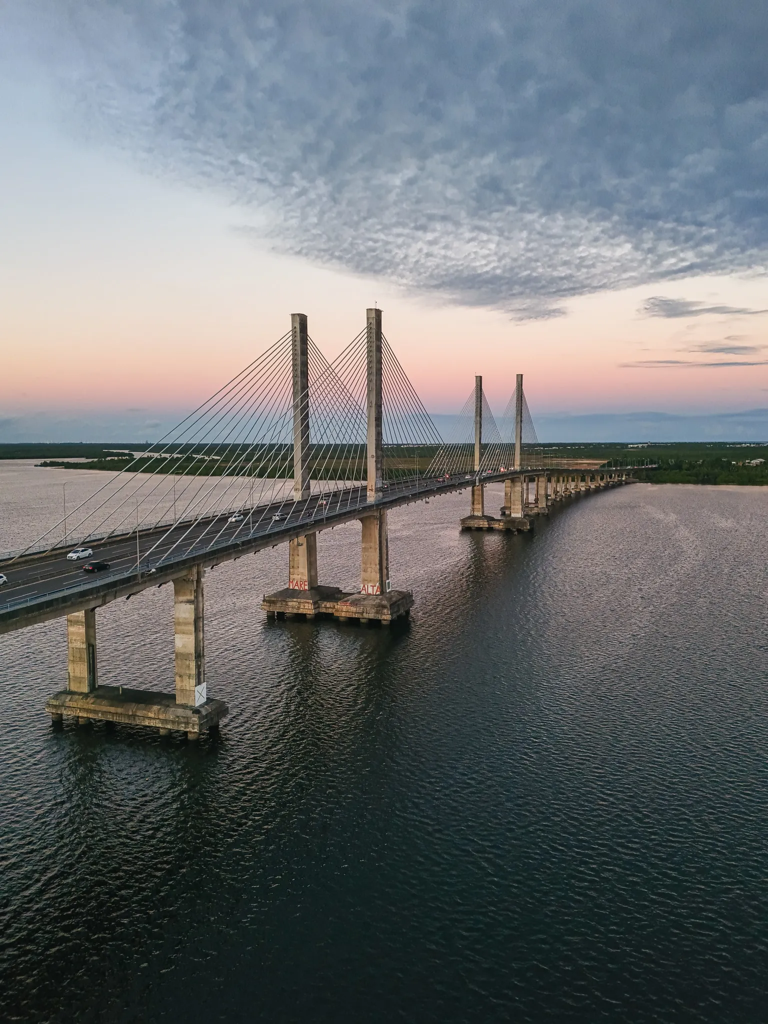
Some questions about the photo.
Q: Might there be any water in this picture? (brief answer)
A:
Yes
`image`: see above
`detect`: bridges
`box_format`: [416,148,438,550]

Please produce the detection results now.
[0,300,660,740]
